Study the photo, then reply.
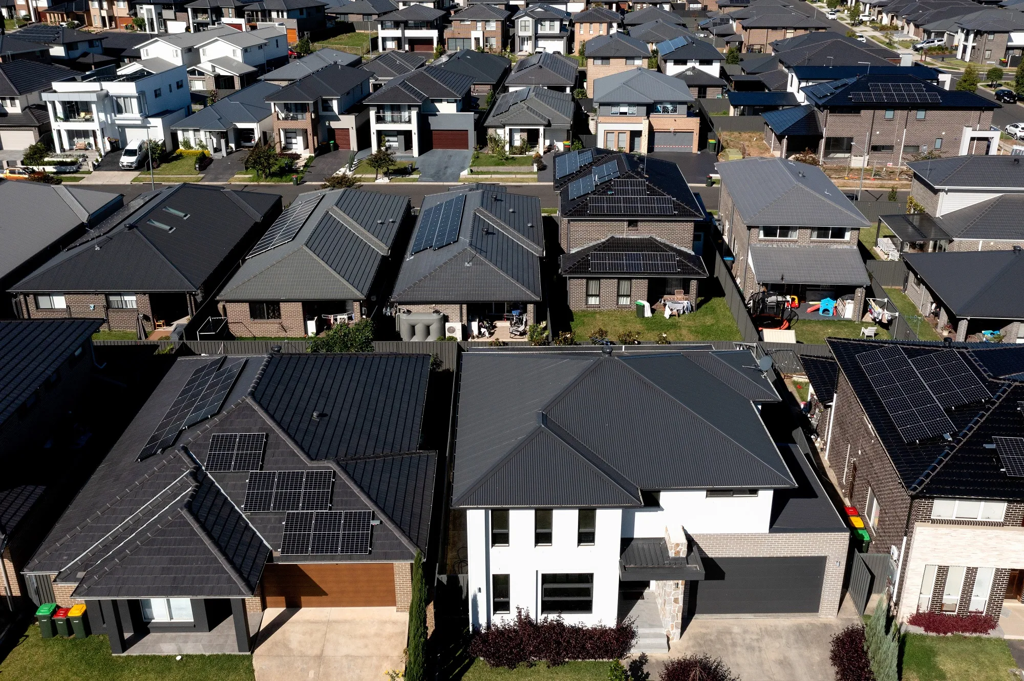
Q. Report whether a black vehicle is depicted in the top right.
Yes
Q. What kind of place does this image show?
residential area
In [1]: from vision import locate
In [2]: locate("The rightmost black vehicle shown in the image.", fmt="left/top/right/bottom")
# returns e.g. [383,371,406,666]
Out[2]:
[995,88,1020,104]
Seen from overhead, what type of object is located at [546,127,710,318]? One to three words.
house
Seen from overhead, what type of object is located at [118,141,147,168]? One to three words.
vehicle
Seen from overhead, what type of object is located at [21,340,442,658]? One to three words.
house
